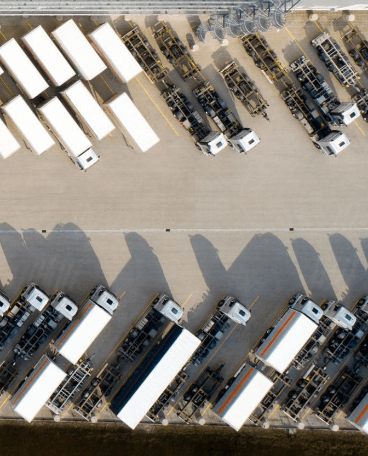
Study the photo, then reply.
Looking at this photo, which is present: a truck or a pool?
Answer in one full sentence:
There is a truck in the scene.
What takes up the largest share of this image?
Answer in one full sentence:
What you mostly see from above here is paved ground.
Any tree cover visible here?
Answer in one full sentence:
No, there's no tree cover in this view.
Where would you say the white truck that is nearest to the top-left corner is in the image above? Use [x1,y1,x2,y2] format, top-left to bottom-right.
[72,146,102,173]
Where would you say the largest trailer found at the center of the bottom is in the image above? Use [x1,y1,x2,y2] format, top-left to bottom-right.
[110,323,200,430]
